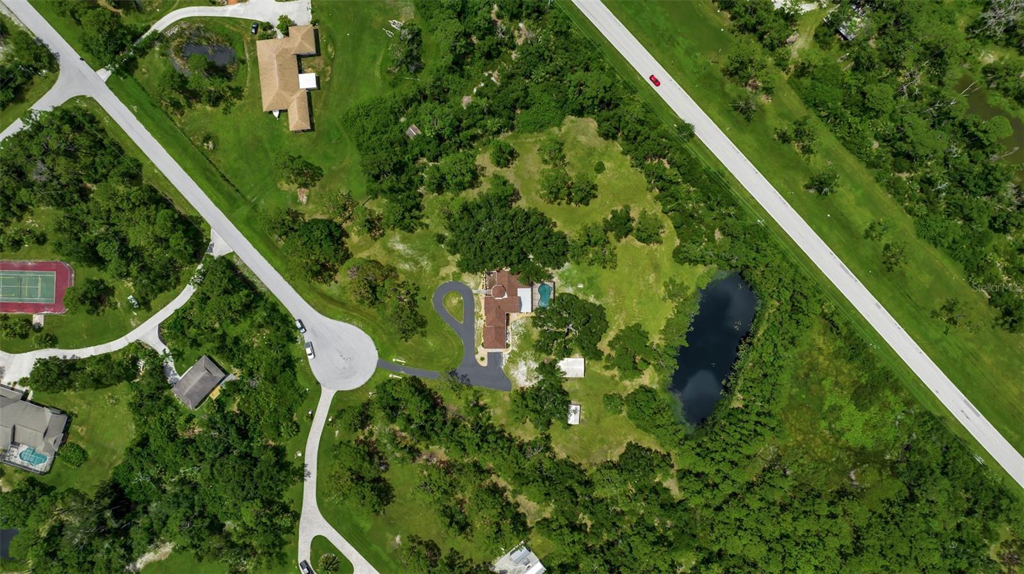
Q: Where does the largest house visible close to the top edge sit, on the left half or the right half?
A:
left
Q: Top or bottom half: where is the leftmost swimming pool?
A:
bottom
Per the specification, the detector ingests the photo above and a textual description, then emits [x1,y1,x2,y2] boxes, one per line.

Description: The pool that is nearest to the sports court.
[0,440,55,476]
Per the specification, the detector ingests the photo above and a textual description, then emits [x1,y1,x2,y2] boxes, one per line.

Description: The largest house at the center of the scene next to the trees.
[483,270,532,349]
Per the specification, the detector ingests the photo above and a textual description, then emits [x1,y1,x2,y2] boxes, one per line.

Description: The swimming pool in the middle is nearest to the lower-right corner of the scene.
[532,282,554,315]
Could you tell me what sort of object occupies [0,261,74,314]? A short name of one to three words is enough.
sports court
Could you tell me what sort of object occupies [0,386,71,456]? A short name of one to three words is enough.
house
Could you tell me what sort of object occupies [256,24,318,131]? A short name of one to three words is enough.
house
